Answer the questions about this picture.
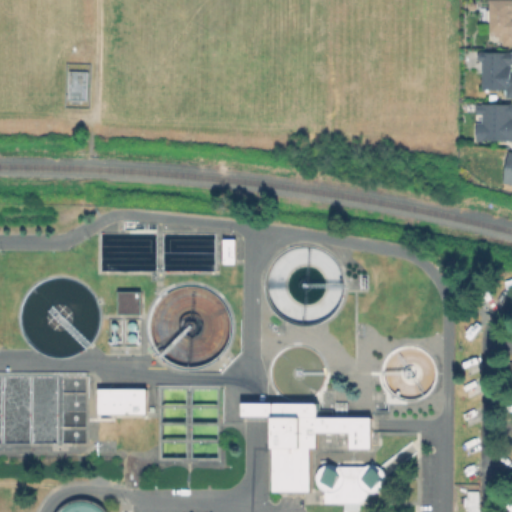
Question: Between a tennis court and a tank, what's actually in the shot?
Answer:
tank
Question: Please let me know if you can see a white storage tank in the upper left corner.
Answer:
No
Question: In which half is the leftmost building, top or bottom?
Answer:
top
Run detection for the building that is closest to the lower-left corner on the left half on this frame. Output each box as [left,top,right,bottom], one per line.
[90,388,146,422]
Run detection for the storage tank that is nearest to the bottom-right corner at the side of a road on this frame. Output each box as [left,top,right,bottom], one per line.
[372,346,438,404]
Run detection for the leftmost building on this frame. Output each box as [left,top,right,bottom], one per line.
[70,72,89,102]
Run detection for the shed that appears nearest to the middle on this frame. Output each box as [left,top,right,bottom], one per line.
[222,239,236,266]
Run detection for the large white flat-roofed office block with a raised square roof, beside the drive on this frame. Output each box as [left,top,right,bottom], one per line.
[240,403,372,494]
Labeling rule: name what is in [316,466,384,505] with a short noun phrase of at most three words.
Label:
building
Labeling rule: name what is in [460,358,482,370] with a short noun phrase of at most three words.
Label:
vehicle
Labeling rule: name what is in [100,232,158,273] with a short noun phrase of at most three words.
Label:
storage tank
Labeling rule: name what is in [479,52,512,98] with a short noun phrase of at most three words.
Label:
house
